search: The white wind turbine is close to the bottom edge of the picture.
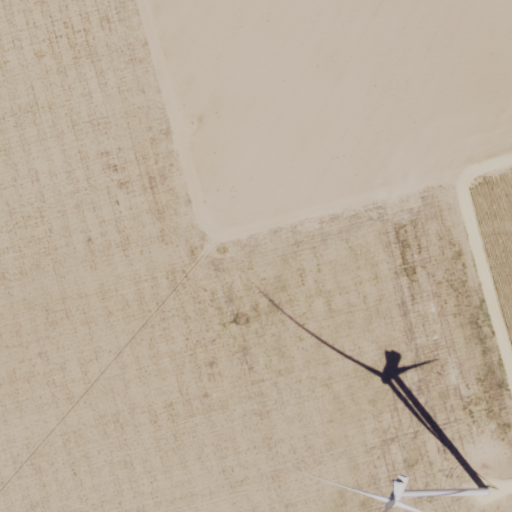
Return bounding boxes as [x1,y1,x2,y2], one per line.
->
[280,466,494,512]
